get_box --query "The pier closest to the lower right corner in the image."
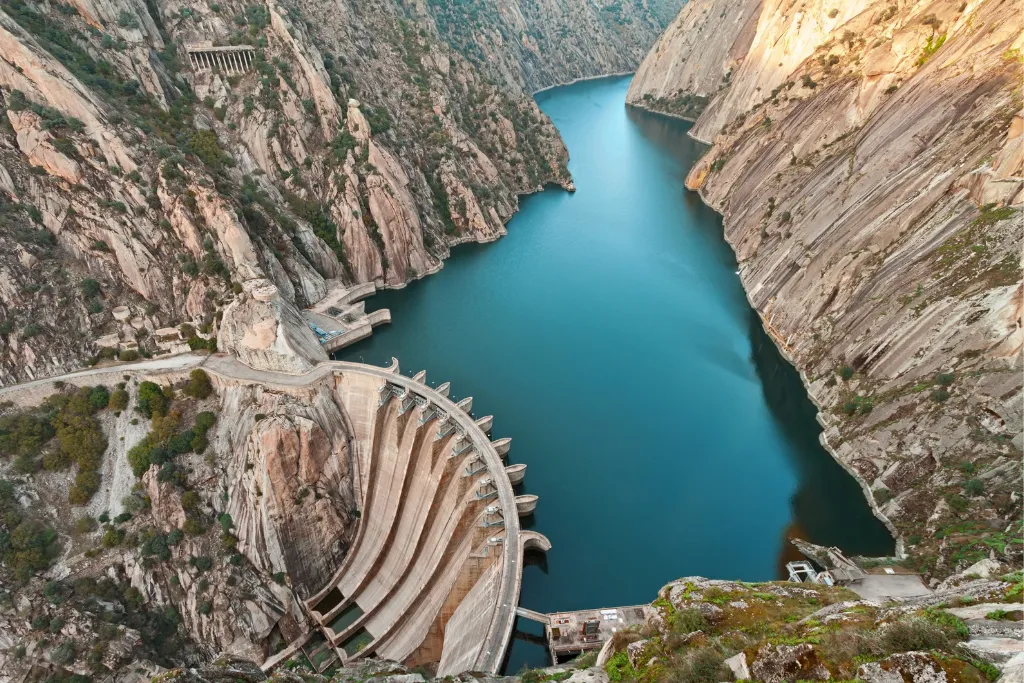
[788,533,838,576]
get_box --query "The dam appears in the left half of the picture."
[268,356,551,673]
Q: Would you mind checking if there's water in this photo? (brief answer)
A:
Yes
